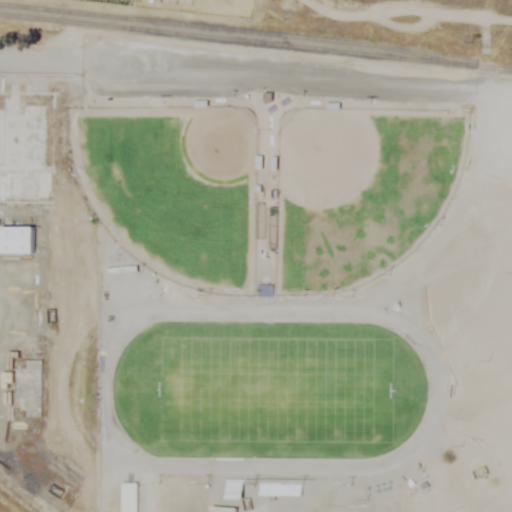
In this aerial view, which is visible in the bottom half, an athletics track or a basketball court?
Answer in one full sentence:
It is an athletics track that can be seen in the bottom half.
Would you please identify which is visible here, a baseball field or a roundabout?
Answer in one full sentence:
Looking from above, you can make out a baseball field.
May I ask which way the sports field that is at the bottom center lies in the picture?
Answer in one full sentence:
The sports field that is at the bottom center is laid out horizontally.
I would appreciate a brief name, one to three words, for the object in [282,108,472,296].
baseball field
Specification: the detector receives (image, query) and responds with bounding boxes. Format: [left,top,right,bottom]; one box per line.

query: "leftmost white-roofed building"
[0,226,37,254]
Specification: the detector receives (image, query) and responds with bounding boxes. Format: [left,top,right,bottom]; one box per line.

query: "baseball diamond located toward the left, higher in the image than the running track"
[70,109,256,296]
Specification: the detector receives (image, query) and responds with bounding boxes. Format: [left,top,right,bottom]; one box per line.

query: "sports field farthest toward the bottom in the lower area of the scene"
[114,321,428,458]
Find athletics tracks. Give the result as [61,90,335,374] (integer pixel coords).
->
[100,305,442,474]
